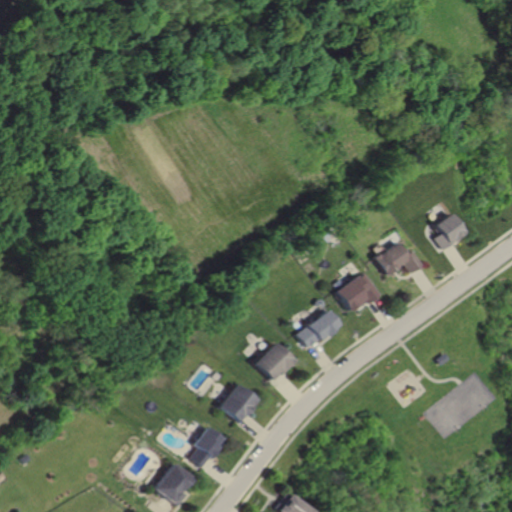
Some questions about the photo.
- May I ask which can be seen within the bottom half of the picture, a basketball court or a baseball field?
basketball court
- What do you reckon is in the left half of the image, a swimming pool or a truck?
swimming pool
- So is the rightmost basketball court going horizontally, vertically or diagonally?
diagonally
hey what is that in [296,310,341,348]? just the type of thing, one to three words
house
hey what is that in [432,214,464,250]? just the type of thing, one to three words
house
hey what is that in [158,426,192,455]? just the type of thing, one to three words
swimming pool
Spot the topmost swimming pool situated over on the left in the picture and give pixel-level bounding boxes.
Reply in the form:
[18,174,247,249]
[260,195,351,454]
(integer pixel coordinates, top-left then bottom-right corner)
[187,365,214,395]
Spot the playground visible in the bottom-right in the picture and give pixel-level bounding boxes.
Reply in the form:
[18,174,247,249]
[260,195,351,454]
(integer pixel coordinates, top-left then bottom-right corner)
[387,368,426,408]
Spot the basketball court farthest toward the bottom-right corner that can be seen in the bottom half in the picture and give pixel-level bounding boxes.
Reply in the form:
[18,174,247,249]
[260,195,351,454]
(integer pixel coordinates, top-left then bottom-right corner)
[424,373,496,438]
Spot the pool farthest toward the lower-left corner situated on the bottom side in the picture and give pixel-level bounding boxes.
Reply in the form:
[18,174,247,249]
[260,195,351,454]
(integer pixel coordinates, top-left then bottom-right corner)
[124,448,160,482]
